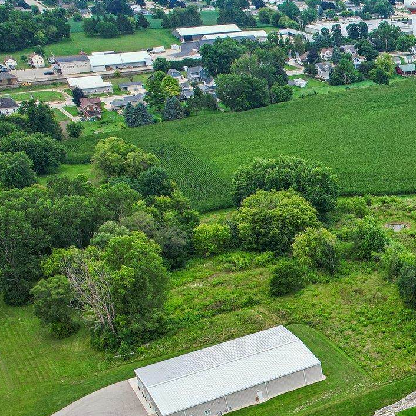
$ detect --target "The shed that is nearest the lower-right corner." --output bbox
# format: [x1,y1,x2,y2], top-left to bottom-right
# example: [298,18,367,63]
[134,325,322,416]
